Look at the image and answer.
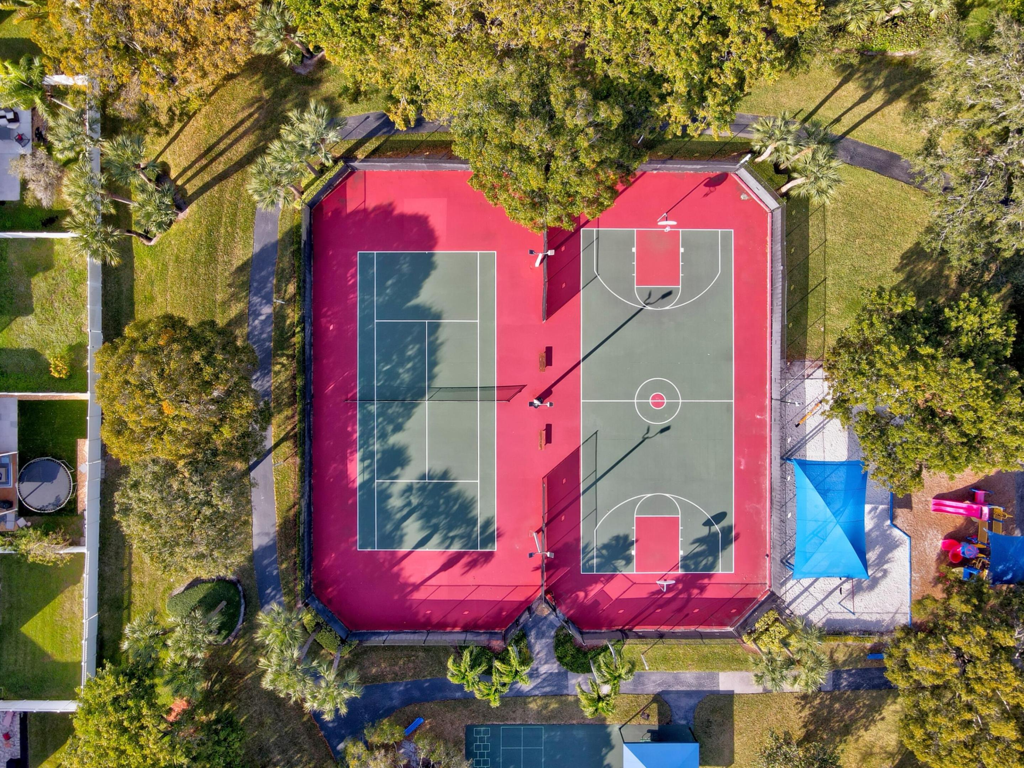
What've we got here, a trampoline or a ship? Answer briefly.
trampoline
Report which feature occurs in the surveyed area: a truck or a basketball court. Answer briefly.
basketball court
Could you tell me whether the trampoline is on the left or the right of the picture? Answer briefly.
left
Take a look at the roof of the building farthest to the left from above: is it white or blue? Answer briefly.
blue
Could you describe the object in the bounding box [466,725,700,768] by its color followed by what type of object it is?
blue sports court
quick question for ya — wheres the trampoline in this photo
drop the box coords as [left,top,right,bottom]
[18,453,83,514]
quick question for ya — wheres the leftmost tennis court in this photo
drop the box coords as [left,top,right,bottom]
[312,170,544,631]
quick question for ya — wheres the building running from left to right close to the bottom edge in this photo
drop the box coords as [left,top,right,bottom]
[617,727,700,768]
